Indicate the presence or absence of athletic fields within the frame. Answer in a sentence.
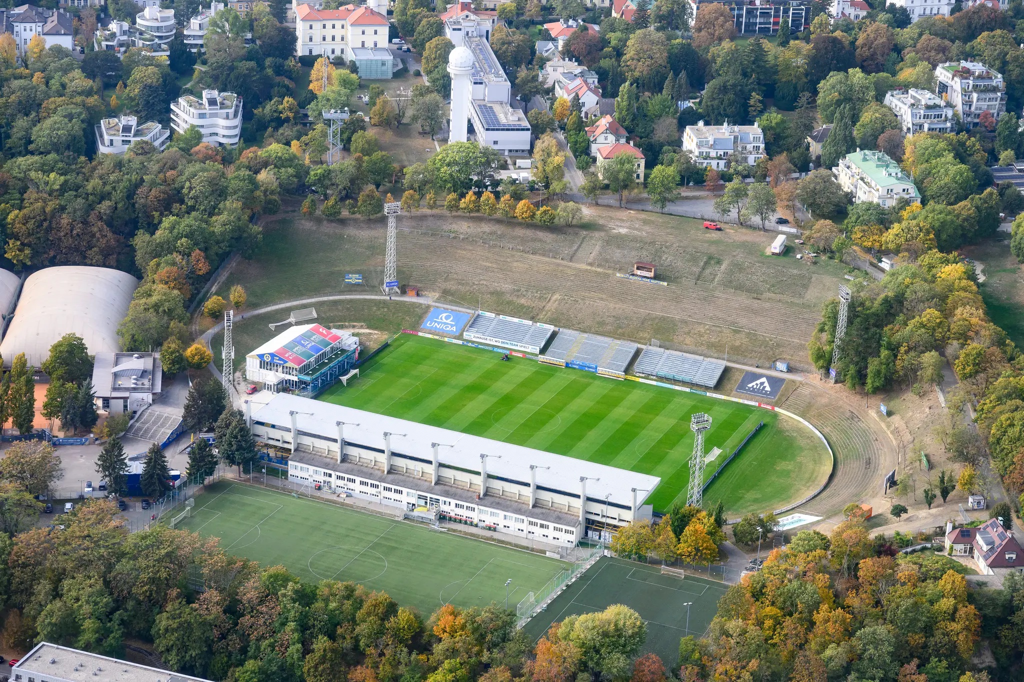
Yes, an athletic field is visible in the scene.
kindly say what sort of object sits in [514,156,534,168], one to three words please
vehicle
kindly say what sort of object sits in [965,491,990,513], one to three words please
shed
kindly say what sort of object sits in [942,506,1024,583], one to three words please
house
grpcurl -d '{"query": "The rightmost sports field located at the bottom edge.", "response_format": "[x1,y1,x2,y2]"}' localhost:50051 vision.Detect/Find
[529,553,747,682]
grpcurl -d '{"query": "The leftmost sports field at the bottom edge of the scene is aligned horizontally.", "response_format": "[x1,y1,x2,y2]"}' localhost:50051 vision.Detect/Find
[159,480,580,664]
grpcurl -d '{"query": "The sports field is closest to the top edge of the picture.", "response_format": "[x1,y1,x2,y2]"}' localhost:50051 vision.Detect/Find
[308,333,836,522]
